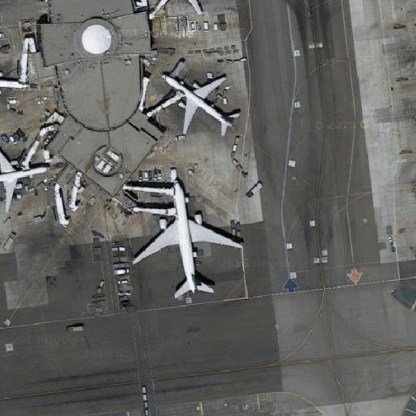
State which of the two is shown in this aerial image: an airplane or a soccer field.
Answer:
airplane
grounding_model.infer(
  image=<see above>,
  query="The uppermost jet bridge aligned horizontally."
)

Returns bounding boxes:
[120,183,174,195]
